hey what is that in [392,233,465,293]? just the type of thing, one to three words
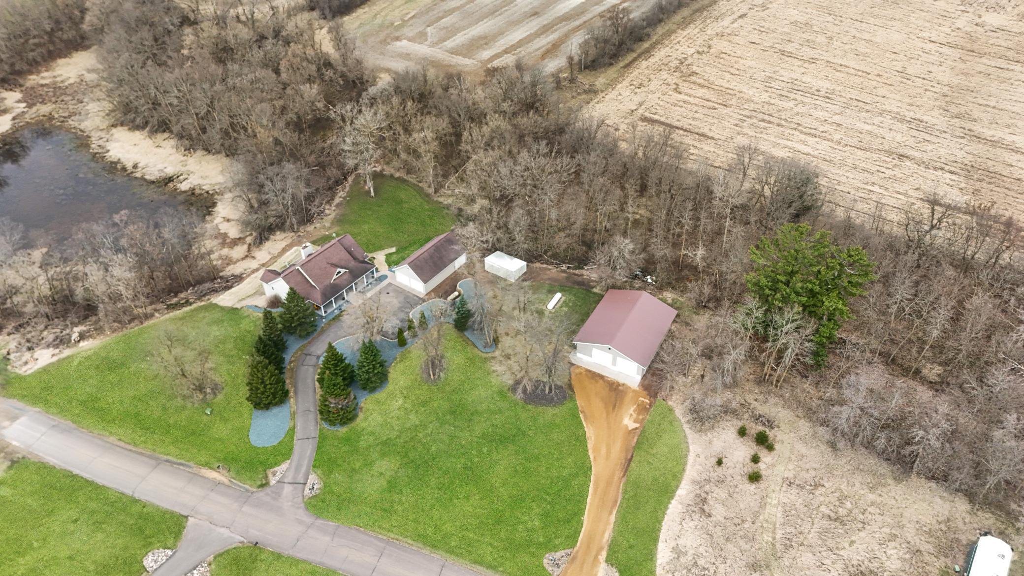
building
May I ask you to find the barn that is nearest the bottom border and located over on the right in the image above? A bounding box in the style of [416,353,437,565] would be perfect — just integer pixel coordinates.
[569,289,678,387]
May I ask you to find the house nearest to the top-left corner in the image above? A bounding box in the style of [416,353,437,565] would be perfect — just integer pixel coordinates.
[258,234,378,317]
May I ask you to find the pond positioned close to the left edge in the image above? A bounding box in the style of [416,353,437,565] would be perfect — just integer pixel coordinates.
[0,122,223,254]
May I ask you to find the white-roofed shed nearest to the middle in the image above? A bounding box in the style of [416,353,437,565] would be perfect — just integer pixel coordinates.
[484,250,526,282]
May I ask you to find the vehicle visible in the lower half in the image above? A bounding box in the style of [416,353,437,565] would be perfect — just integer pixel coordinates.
[966,535,1013,576]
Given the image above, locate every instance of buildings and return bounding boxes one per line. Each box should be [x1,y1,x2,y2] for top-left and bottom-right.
[569,289,678,387]
[258,234,378,317]
[392,233,465,293]
[484,250,526,282]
